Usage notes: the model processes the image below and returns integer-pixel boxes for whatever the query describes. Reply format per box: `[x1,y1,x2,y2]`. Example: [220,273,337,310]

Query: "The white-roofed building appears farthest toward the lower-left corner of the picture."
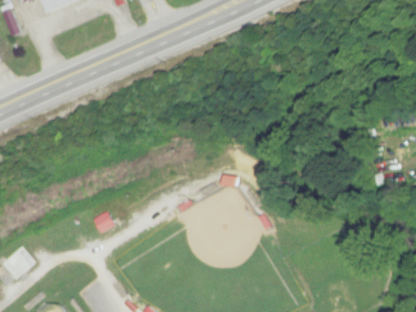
[3,246,37,280]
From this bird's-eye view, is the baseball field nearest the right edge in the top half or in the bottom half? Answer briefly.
bottom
